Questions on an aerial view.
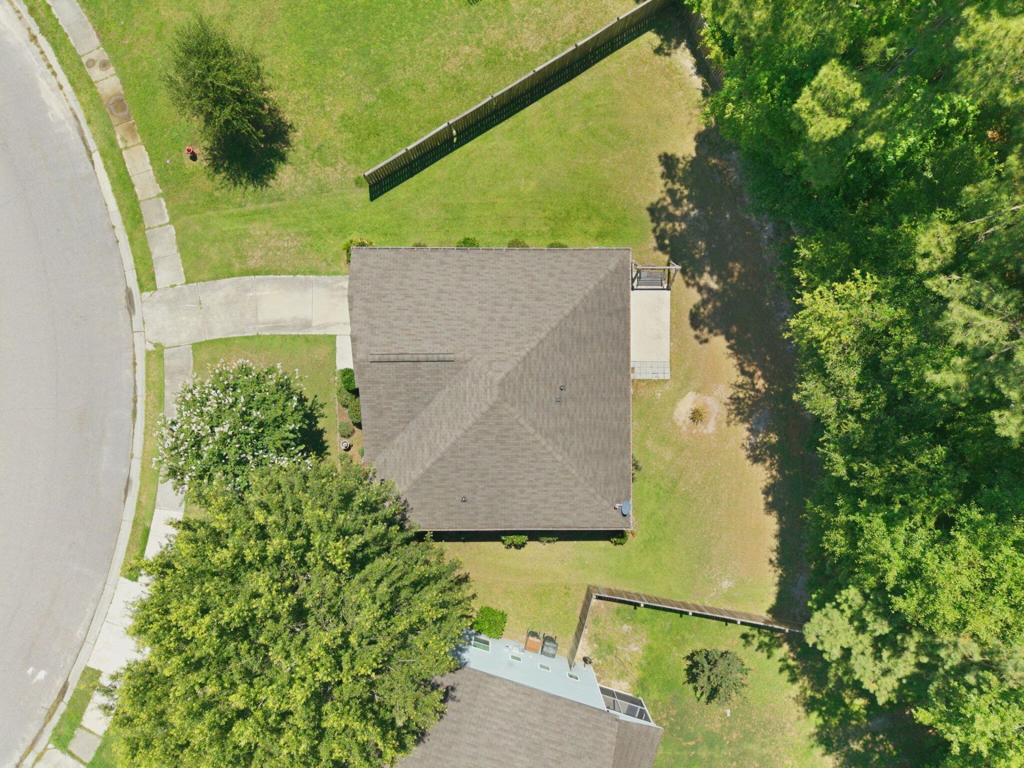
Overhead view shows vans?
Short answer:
No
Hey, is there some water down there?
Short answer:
No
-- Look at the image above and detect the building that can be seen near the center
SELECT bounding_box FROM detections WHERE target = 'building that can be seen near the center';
[348,246,634,532]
